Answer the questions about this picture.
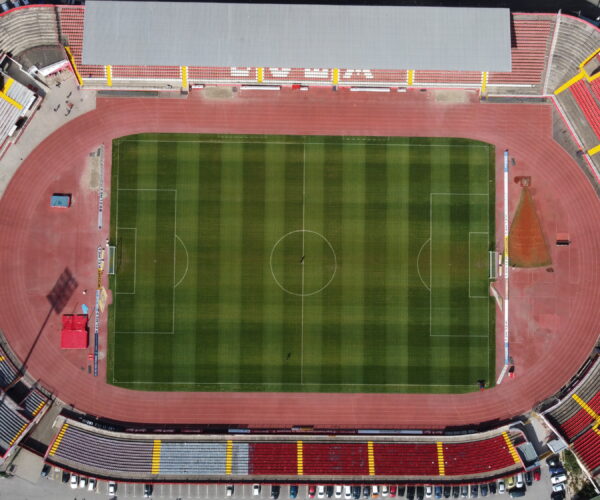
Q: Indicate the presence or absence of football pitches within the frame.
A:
Yes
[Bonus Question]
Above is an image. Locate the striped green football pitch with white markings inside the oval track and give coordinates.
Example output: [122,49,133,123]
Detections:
[107,132,496,394]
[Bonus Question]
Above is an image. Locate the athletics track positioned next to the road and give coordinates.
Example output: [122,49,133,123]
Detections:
[0,87,600,429]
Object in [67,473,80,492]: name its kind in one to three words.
vehicle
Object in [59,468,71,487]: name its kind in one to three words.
vehicle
